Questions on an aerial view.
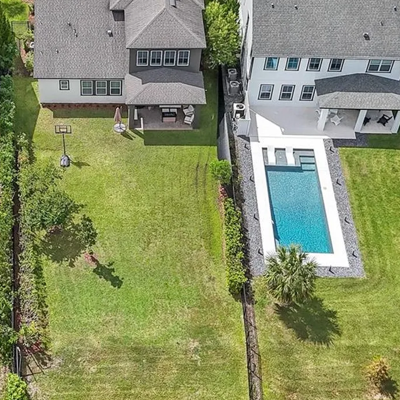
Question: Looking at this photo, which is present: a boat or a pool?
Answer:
pool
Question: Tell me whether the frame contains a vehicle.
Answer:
No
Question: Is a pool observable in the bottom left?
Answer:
No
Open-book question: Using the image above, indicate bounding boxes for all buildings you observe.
[31,0,208,129]
[237,0,400,133]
